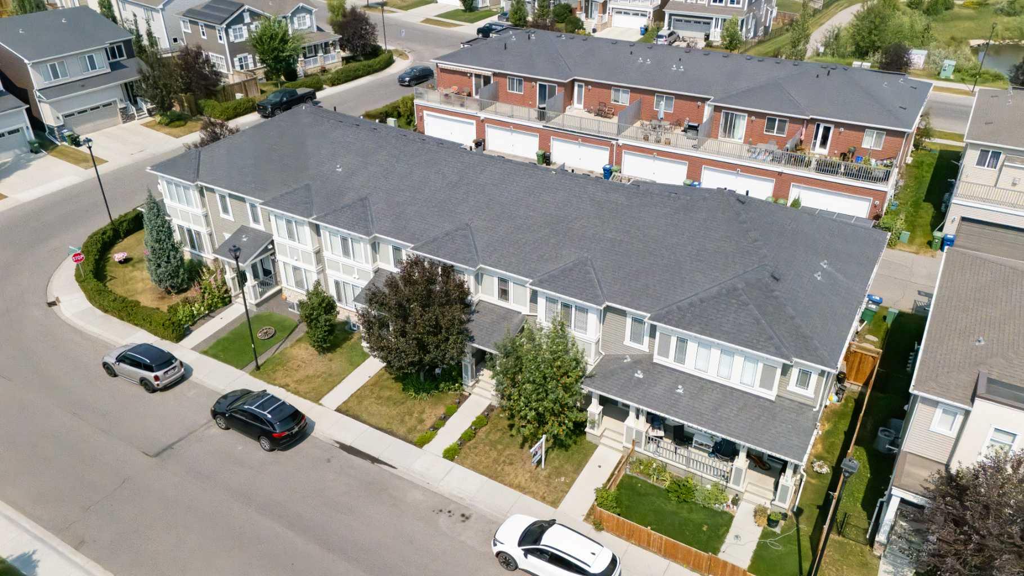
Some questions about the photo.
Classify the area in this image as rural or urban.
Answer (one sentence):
The area shown here is urban.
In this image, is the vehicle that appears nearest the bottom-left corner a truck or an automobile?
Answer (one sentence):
In the photo, the vehicle that appears nearest the bottom-left corner shows up as an automobile.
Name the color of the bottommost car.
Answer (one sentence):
The color of the bottommost car is white.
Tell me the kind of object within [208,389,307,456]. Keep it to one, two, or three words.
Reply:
car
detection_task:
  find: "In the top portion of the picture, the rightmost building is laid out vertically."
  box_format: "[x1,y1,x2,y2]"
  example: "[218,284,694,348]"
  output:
[942,80,1024,258]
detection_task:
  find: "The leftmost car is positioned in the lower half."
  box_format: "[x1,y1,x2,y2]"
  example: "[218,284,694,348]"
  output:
[103,341,184,397]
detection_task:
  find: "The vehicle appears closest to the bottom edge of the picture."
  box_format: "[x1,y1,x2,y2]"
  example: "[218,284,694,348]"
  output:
[485,516,625,576]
